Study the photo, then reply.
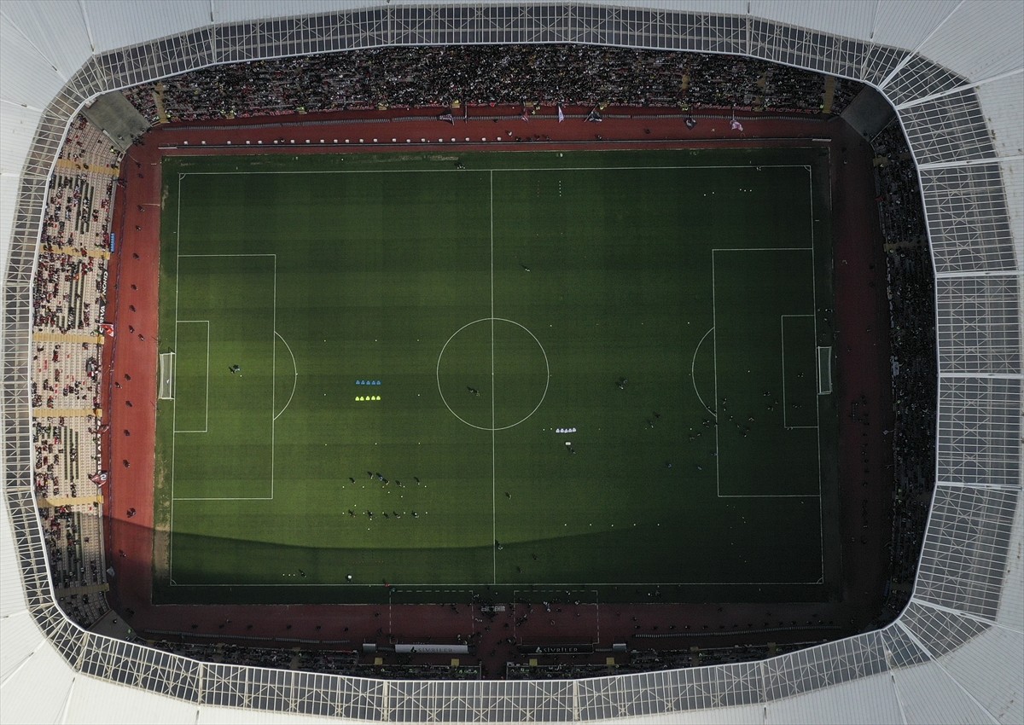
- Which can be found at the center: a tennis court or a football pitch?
football pitch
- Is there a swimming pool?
No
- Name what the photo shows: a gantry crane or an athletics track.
athletics track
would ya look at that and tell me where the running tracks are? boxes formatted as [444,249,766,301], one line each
[107,109,889,679]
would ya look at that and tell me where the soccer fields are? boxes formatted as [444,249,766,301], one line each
[151,146,844,642]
